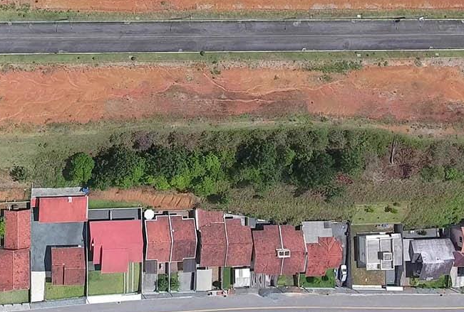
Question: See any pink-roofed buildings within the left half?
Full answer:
Yes, the scene does show a pink-roofed building within the left half.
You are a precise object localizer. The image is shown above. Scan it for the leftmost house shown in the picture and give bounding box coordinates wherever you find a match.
[0,210,30,292]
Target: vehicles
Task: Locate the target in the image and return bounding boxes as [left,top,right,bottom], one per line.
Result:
[341,264,348,282]
[334,268,340,281]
